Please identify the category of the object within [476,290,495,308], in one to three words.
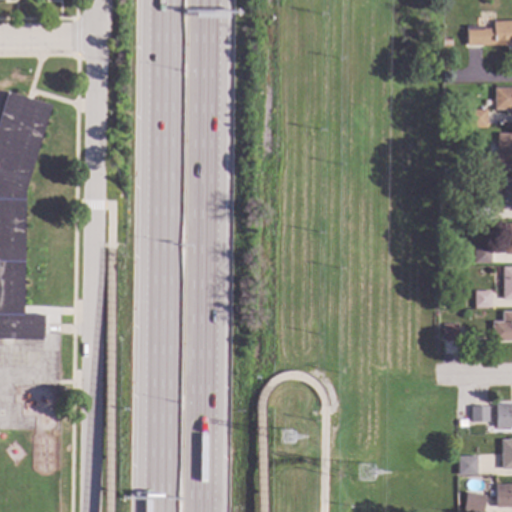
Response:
building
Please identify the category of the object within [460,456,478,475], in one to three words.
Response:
building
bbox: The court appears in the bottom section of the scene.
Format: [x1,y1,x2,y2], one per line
[32,434,60,478]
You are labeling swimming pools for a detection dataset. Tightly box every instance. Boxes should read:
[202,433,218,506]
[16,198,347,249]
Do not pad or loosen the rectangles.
[467,476,486,490]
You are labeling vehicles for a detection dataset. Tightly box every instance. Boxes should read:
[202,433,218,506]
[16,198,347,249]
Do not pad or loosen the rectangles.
[151,53,156,62]
[160,120,166,131]
[211,393,217,408]
[84,343,90,356]
[200,416,208,483]
[212,117,219,131]
[196,162,202,177]
[146,500,155,512]
[160,0,168,10]
[212,310,218,322]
